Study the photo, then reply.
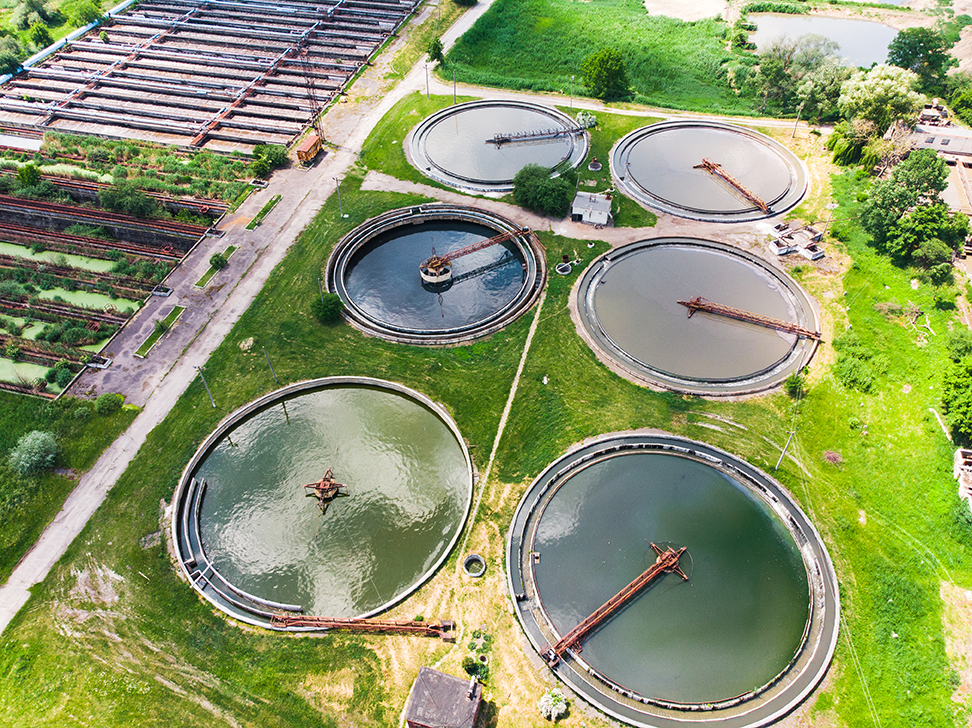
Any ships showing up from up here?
No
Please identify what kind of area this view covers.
industrial area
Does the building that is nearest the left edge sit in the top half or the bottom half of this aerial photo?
bottom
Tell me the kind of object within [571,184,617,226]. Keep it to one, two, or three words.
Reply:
building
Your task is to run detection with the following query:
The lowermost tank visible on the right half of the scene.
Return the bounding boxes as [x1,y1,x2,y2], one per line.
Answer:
[508,434,838,728]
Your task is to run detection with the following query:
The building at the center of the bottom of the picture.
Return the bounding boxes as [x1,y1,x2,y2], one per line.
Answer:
[403,668,483,728]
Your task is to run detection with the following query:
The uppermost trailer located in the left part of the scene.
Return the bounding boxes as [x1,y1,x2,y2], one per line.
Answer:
[290,131,326,171]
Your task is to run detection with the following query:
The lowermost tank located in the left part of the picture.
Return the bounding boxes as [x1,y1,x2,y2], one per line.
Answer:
[173,378,473,631]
